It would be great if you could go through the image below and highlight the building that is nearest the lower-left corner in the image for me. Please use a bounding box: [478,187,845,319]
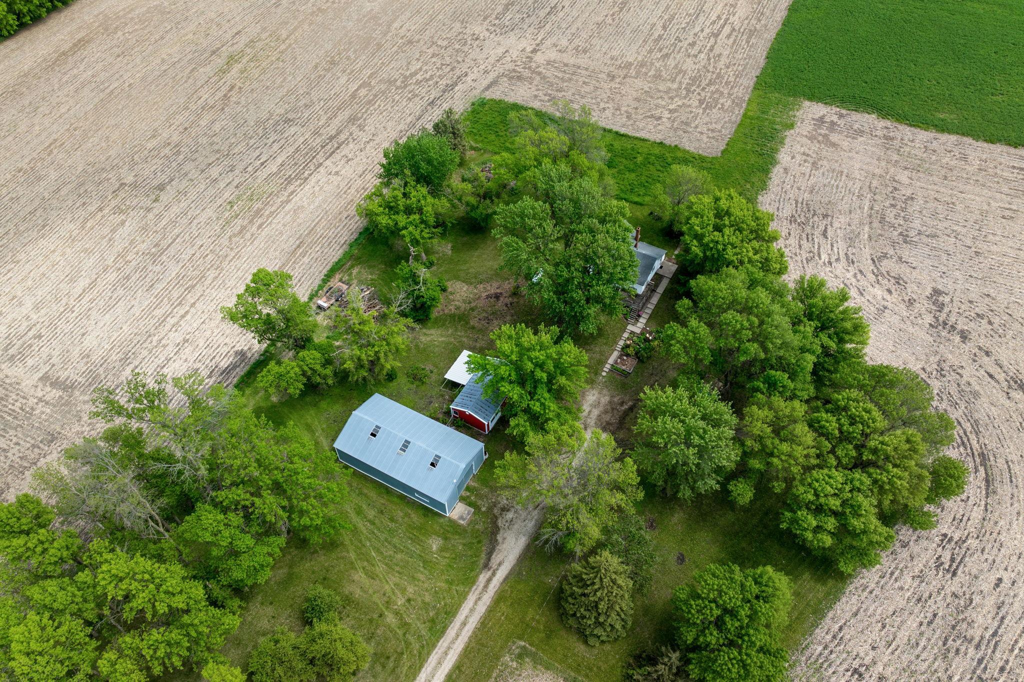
[332,393,485,516]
